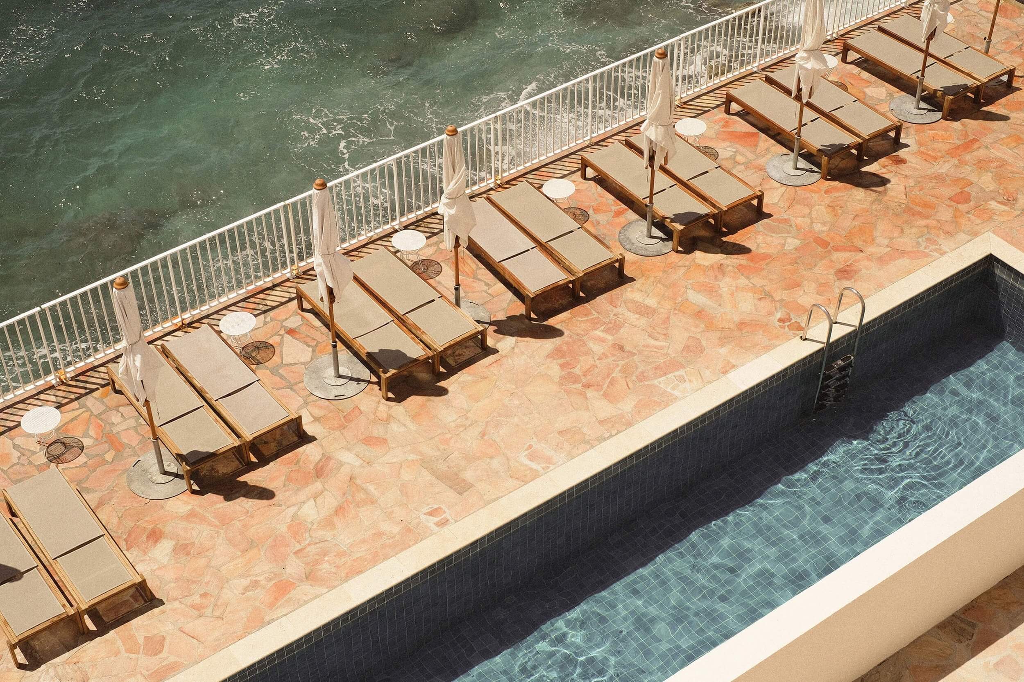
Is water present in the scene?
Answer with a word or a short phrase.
Yes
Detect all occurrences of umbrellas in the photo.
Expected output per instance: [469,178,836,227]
[115,277,192,498]
[892,0,954,124]
[307,179,366,398]
[436,125,488,338]
[622,49,676,254]
[769,0,830,185]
